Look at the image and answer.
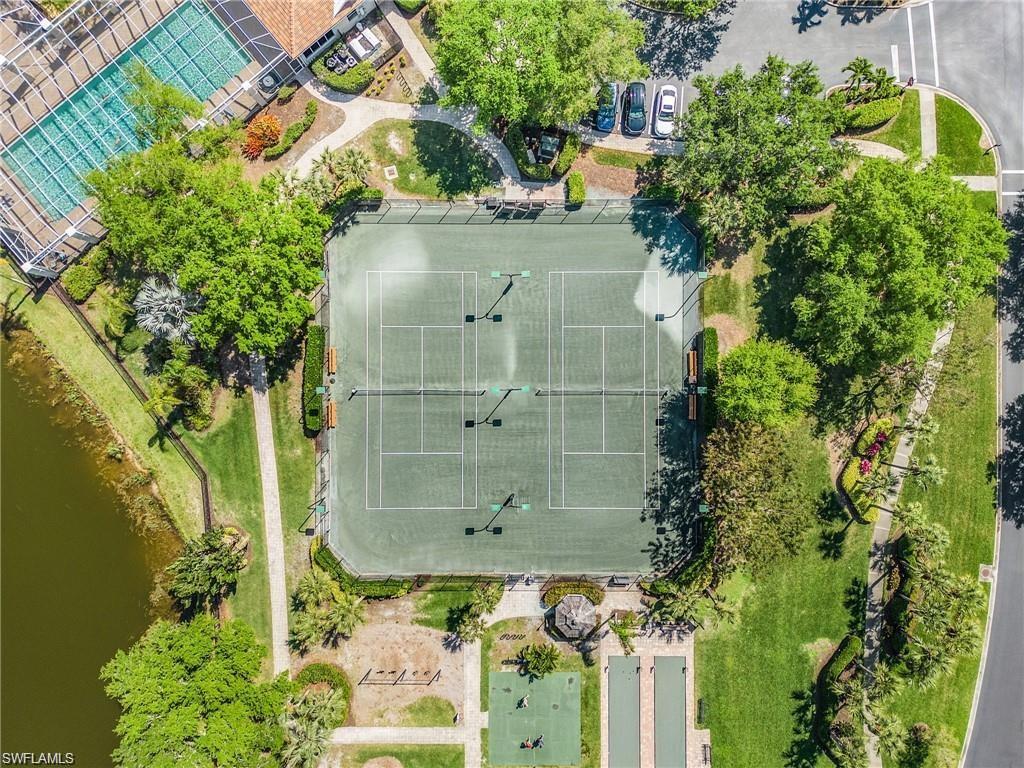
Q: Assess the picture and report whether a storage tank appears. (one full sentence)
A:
No, there isn't any storage tank down there.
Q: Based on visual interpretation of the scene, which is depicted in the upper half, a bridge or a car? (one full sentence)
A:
What appears in the upper half is a car.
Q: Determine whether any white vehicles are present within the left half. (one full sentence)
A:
No, I see no white vehicle within the left half.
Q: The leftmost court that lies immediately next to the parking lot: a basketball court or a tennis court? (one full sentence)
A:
What you see as the leftmost court that lies immediately next to the parking lot is a tennis court.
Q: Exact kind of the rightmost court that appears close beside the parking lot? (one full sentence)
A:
It turns out the rightmost court that appears close beside the parking lot is a tennis court.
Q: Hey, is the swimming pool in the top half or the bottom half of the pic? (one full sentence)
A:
You can find the swimming pool in the top half.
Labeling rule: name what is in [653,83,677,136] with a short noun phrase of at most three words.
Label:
car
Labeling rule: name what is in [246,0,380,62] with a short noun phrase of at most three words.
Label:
building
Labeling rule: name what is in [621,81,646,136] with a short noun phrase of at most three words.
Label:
car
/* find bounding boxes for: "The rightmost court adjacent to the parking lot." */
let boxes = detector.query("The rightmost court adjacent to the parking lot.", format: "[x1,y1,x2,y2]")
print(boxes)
[512,207,696,575]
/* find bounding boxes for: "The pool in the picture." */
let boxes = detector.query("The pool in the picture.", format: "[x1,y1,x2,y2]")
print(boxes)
[0,0,253,225]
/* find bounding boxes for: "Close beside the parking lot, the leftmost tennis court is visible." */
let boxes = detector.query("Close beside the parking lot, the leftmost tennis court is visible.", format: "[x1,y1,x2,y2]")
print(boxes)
[329,207,512,575]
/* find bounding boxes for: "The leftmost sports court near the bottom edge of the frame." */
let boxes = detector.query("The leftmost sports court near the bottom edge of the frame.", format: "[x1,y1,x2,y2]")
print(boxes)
[489,672,581,766]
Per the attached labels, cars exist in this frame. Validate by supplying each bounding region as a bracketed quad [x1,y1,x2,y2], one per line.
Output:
[653,83,677,136]
[621,81,646,136]
[594,81,618,132]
